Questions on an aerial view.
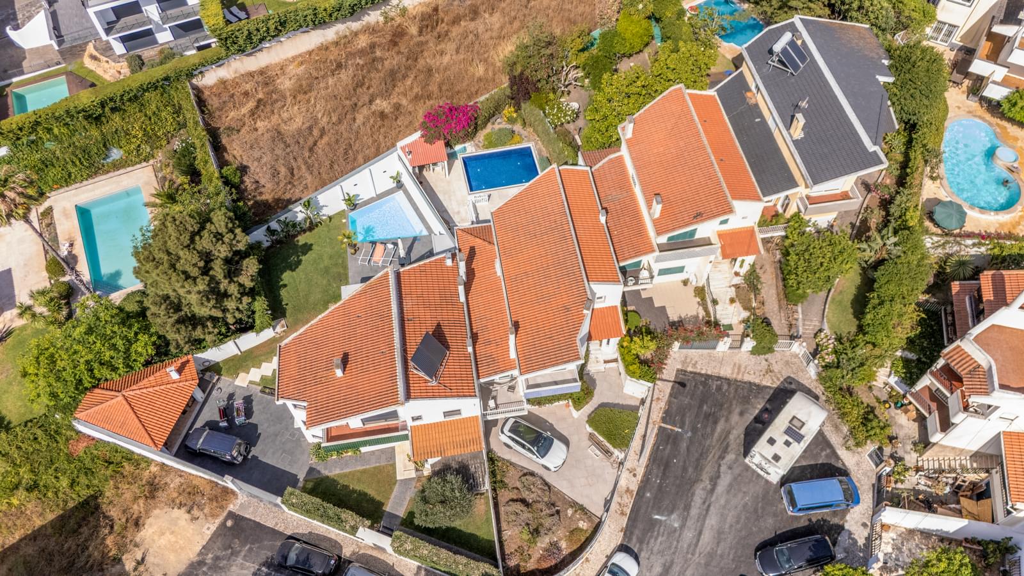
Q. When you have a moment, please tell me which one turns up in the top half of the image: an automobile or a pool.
pool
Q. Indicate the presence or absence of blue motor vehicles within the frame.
Yes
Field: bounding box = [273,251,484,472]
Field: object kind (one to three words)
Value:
house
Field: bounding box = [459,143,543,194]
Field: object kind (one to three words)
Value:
swimming pool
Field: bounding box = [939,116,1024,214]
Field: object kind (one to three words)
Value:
swimming pool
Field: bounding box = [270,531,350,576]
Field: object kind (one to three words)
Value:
car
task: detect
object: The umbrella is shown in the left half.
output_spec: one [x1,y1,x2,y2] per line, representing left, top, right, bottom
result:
[396,238,410,269]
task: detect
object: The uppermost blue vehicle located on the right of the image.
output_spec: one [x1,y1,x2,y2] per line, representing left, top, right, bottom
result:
[776,472,863,521]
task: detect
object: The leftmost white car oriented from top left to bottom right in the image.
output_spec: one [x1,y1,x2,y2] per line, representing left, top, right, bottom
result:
[496,414,568,472]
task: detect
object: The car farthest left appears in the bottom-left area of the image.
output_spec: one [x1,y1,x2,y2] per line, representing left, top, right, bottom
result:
[181,424,252,469]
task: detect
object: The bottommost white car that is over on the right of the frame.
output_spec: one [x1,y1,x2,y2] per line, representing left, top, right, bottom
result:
[592,546,641,576]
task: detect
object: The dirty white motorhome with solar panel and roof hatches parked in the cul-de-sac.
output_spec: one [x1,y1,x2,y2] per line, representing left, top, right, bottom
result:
[739,392,829,486]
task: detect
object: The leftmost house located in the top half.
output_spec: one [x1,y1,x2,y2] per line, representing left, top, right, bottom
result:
[85,0,211,56]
